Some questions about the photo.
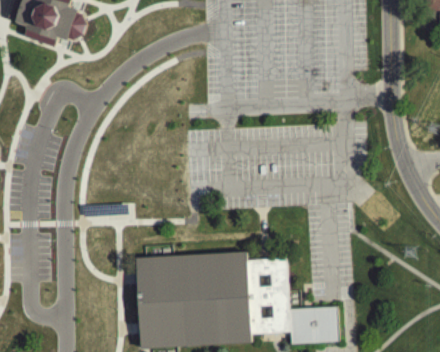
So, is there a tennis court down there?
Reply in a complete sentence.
No, no tennis court is visible in the scene.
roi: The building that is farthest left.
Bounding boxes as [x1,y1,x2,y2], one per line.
[16,0,91,45]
